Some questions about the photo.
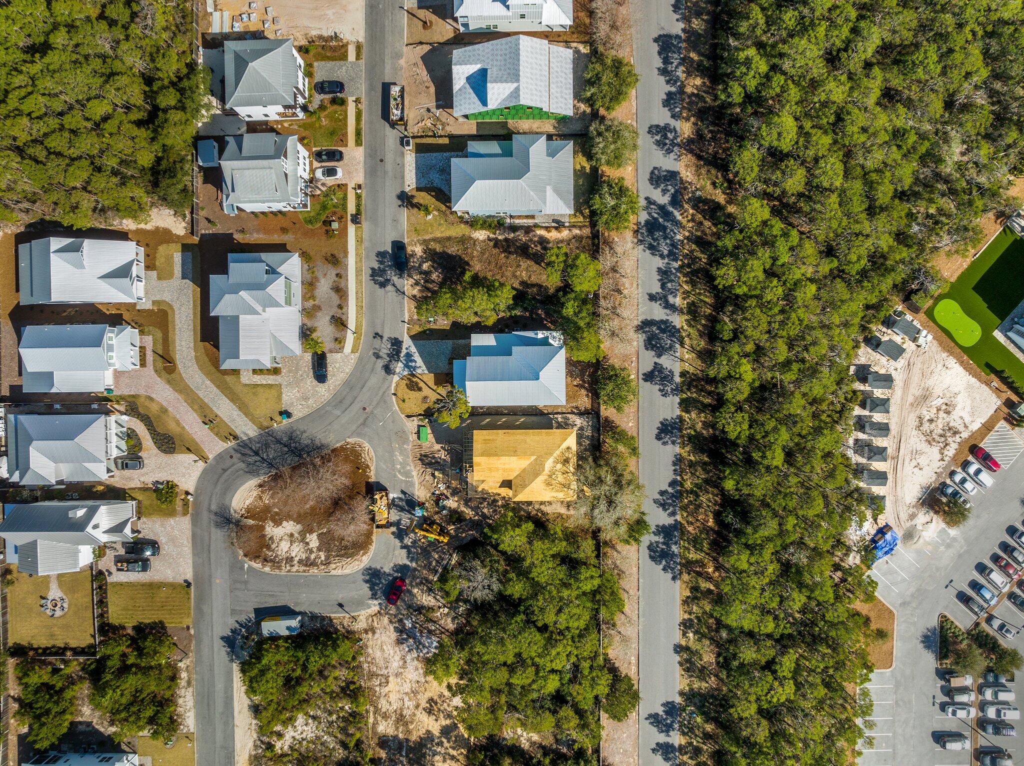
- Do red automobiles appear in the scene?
Yes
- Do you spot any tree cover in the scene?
Yes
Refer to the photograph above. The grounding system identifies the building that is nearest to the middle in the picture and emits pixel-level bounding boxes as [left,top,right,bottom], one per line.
[453,331,566,406]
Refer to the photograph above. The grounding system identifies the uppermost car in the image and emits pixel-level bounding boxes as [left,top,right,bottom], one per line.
[315,79,345,95]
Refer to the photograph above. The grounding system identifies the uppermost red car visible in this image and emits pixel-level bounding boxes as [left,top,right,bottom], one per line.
[970,443,1005,473]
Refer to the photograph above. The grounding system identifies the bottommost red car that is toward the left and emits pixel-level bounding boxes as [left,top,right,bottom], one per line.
[385,575,407,608]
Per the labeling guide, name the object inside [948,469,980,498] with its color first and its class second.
white car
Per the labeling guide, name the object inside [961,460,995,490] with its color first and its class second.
white car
